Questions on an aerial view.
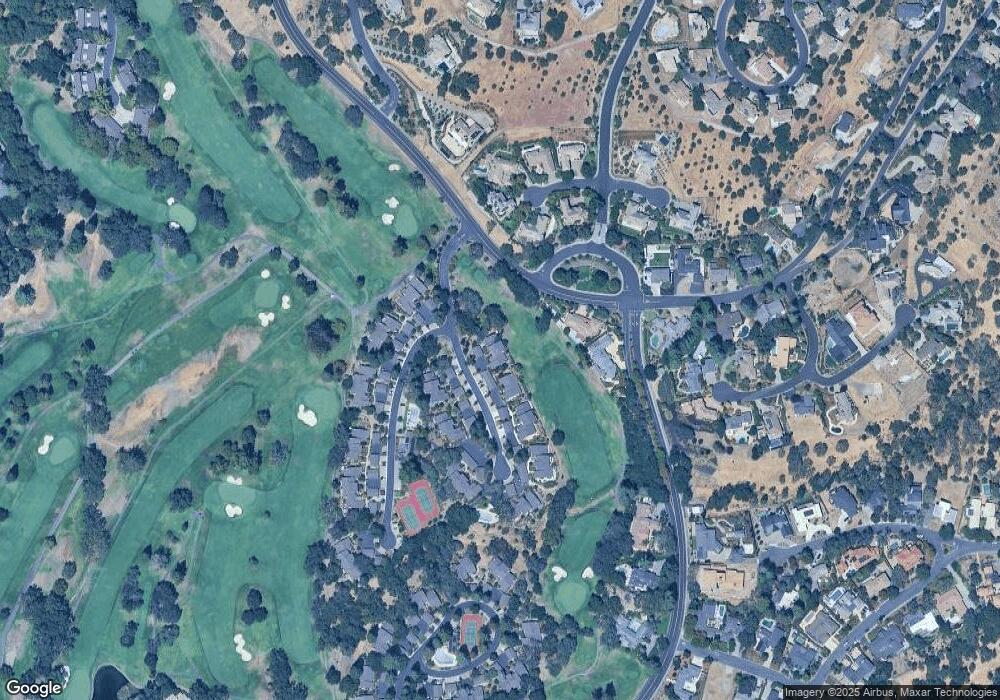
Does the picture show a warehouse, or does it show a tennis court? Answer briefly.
tennis court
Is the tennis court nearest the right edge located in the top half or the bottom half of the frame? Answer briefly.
bottom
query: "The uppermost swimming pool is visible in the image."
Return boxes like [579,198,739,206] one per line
[657,23,673,37]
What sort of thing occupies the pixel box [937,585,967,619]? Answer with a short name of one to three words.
house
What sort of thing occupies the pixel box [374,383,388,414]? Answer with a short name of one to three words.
house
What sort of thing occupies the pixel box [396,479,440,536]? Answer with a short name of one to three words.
tennis court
